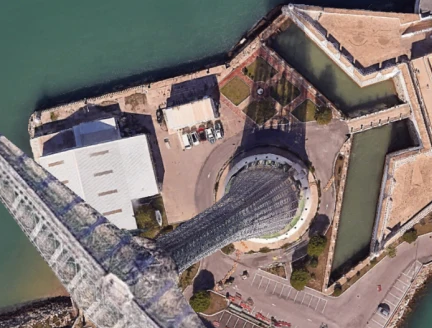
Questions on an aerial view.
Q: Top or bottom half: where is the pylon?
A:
bottom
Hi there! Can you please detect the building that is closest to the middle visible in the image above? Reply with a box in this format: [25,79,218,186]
[161,95,223,148]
